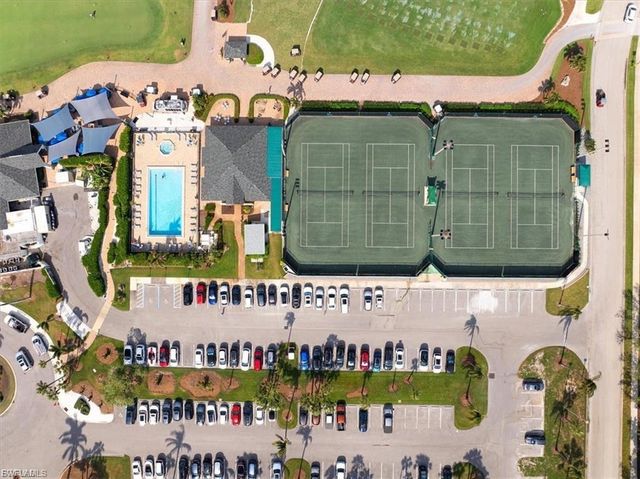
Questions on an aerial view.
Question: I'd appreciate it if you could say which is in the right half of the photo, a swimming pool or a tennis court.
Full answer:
It is a tennis court that can be seen in the right half of the photo.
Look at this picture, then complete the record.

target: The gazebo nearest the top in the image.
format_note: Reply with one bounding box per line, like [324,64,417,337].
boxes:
[224,39,249,60]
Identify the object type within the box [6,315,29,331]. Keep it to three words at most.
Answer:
car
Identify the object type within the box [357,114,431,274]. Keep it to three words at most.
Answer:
tennis court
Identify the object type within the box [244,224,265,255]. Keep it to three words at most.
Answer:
shed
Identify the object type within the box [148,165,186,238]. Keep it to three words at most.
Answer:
swimming pool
